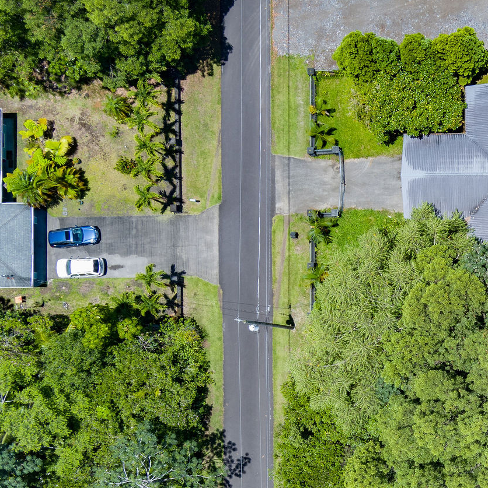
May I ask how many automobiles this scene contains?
2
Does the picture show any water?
No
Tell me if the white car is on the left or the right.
left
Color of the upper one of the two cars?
blue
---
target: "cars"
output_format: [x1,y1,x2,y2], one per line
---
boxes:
[58,256,110,279]
[48,223,104,250]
